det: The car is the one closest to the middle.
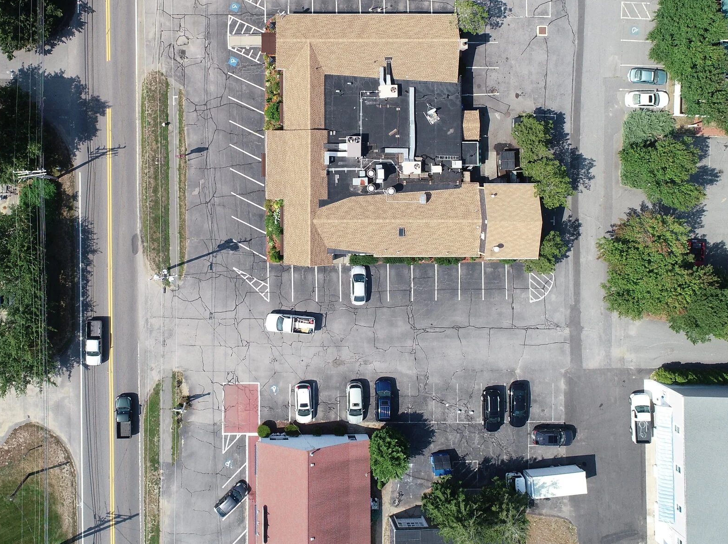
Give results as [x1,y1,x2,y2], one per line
[349,264,368,305]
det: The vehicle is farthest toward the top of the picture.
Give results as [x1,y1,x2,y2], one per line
[625,67,667,86]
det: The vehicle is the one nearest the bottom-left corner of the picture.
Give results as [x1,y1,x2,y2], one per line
[113,393,133,439]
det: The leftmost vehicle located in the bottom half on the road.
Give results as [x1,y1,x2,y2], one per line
[84,317,104,366]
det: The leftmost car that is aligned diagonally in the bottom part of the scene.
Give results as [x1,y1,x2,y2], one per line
[212,477,248,518]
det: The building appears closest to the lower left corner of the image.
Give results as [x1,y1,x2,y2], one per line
[255,438,369,544]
